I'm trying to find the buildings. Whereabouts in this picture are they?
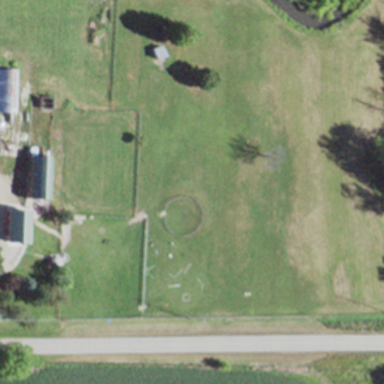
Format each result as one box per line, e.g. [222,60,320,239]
[8,206,32,244]
[29,150,52,200]
[40,96,54,108]
[151,45,170,60]
[0,67,21,114]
